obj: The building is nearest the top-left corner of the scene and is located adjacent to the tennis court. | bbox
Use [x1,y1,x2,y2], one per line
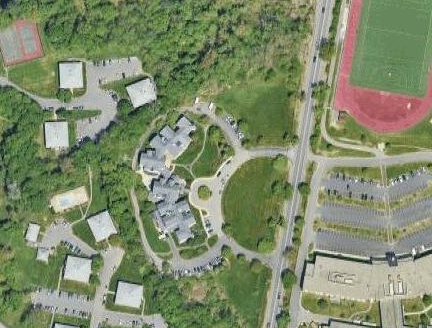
[58,62,83,88]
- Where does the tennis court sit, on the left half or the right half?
left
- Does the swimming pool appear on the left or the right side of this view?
left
